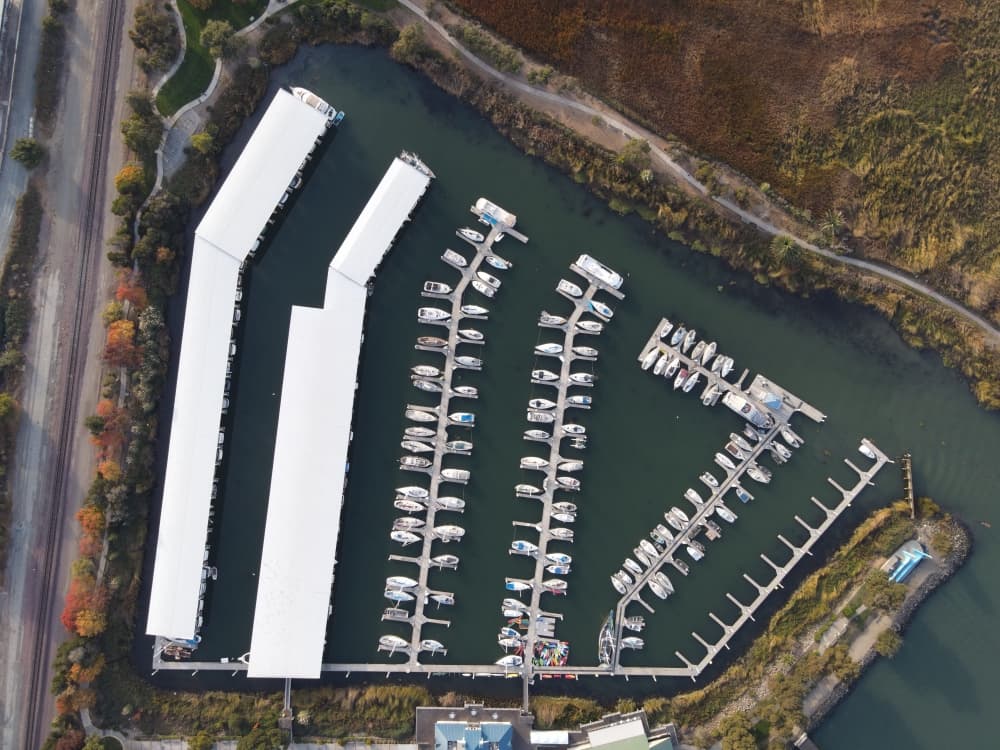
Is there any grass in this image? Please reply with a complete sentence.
Yes, some grass is visible.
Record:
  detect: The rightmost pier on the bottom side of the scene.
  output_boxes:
[897,453,918,505]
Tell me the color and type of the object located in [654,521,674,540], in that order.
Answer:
white boat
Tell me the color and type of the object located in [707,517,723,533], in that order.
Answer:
gray boat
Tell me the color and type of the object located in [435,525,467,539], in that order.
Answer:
white boat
